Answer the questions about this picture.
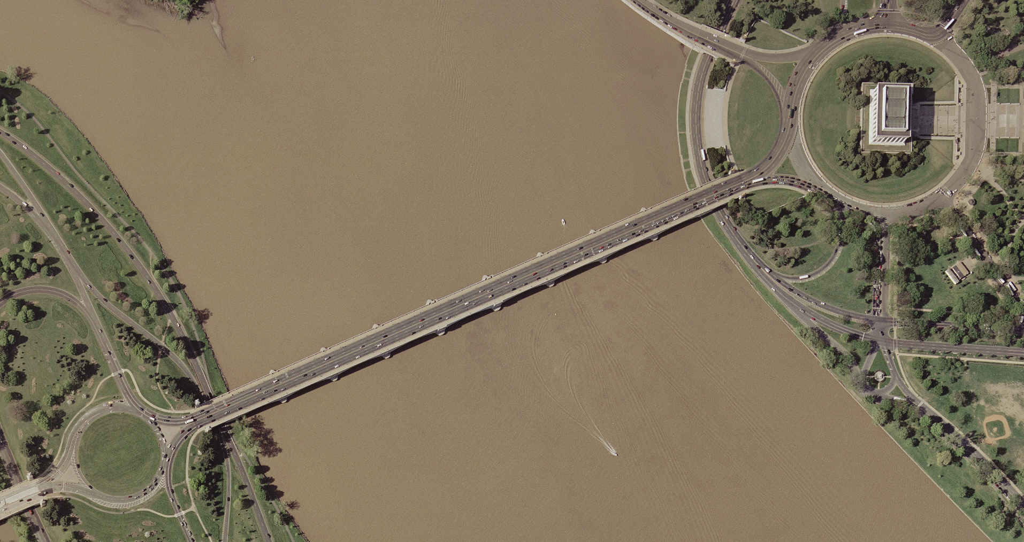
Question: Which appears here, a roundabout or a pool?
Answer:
roundabout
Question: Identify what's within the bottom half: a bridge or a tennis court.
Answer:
bridge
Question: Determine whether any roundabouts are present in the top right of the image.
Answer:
Yes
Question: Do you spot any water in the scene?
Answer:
Yes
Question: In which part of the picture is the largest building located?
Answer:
top right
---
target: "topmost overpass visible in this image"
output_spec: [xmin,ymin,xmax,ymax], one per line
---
[668,18,731,58]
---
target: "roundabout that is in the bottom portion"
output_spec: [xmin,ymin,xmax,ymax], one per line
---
[67,402,172,508]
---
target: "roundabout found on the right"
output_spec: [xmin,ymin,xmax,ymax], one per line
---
[723,0,987,216]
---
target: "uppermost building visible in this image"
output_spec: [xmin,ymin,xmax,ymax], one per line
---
[860,81,955,154]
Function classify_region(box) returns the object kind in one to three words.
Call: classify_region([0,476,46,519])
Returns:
bridge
